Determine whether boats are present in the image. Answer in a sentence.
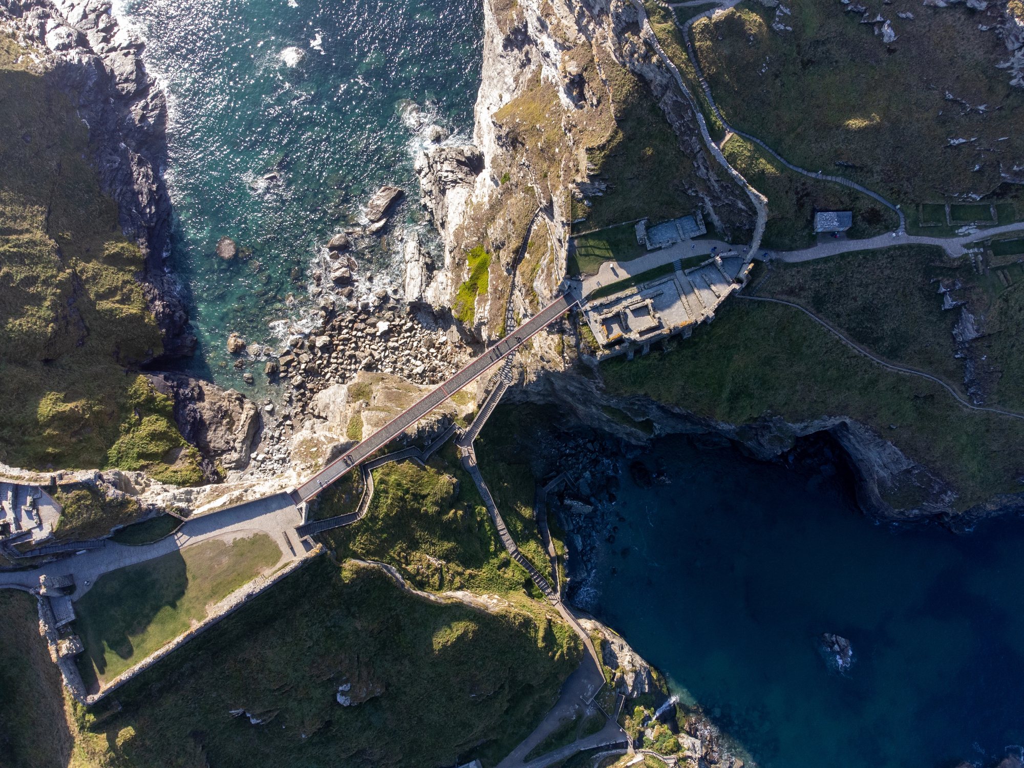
No, the scene contains no boat.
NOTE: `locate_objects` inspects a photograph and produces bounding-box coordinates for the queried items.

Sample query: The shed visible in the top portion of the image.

[813,211,853,231]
